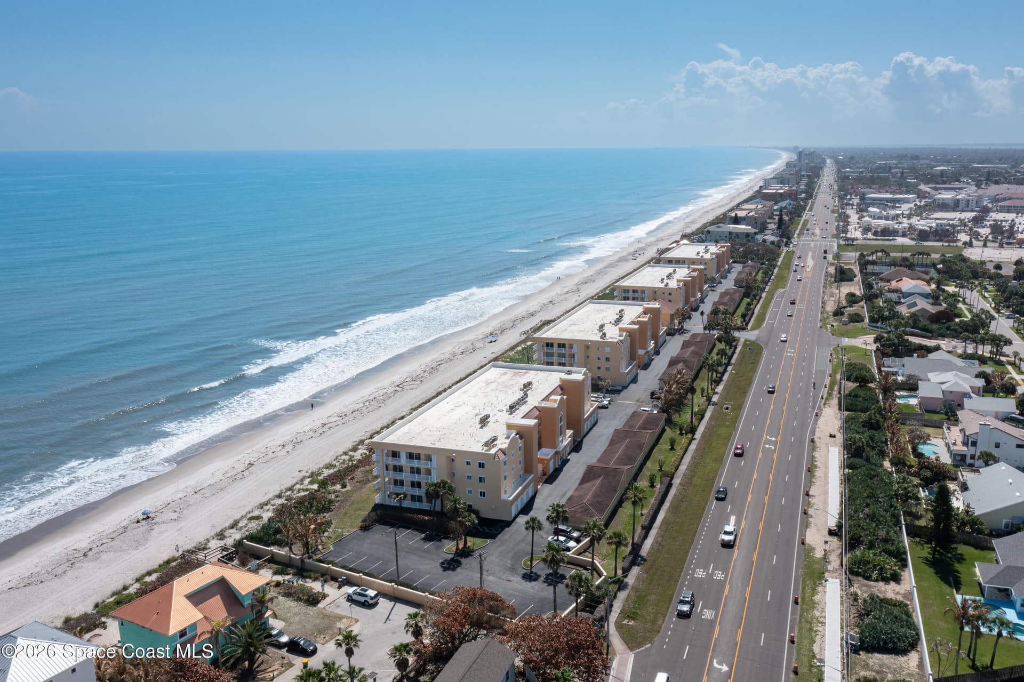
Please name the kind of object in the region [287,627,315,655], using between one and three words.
car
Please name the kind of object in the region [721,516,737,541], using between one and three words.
vehicle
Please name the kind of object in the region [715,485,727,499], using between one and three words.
vehicle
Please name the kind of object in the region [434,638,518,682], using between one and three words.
house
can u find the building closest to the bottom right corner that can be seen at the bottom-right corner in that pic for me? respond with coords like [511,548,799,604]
[974,537,1024,617]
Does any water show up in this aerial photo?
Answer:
Yes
